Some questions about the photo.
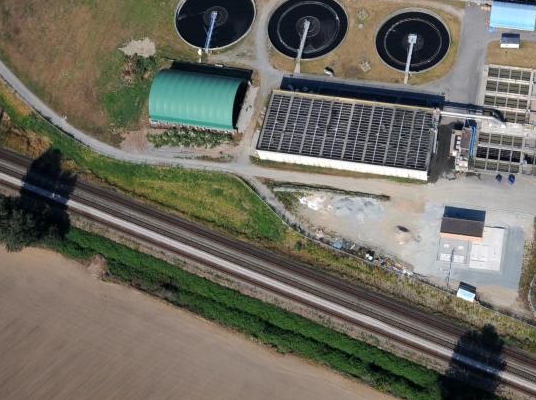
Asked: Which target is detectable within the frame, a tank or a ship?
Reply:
tank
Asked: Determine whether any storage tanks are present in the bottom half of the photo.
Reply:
No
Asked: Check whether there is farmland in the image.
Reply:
Yes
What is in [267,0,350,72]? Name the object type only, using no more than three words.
storage tank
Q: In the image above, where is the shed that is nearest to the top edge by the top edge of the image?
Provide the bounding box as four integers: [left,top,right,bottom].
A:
[490,2,536,33]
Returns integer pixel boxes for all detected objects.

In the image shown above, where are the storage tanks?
[267,0,350,72]
[374,8,453,83]
[174,0,257,53]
